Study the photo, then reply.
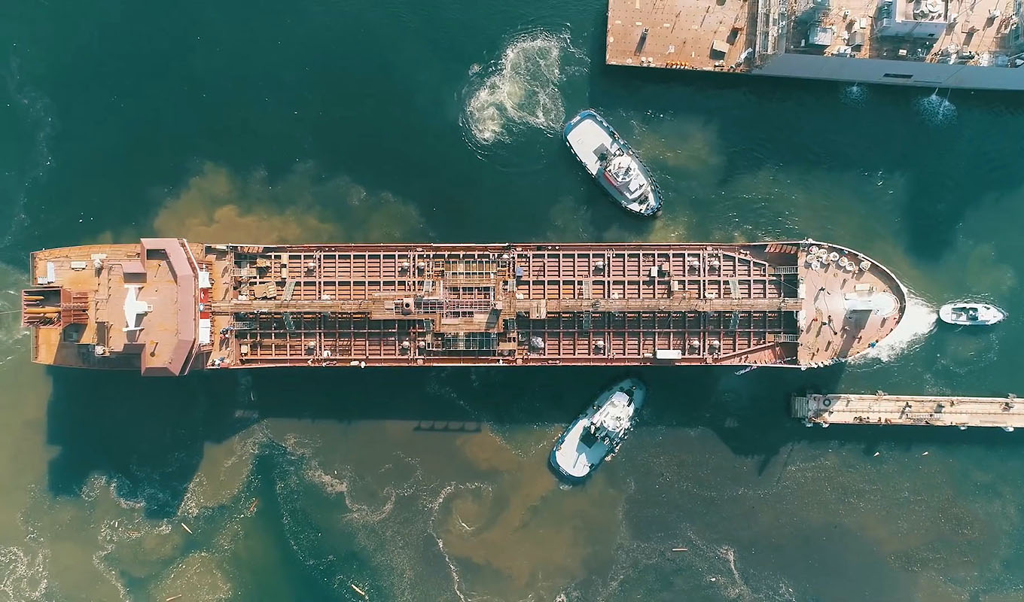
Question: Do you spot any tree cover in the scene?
No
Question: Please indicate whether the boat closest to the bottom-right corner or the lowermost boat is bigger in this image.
the lowermost boat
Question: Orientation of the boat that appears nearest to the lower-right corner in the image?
from side to side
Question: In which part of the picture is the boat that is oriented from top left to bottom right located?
top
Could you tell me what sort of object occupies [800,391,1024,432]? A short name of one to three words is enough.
pier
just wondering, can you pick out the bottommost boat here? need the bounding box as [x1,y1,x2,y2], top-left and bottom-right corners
[547,378,647,486]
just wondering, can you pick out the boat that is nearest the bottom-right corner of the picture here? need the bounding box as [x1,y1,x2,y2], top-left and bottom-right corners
[938,301,1007,326]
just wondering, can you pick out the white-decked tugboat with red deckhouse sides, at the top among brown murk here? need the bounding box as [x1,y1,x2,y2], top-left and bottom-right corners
[562,109,662,214]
